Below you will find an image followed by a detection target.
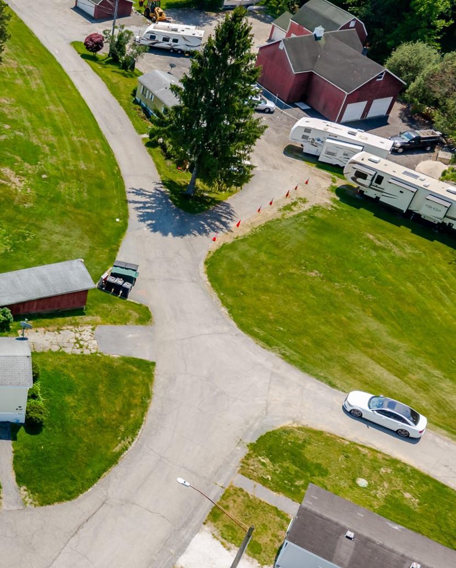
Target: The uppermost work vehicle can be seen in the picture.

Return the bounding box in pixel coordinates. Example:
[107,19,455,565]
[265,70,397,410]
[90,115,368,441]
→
[138,0,178,21]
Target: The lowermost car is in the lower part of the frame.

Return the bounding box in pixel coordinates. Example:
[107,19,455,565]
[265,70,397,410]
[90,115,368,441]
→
[344,391,430,438]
